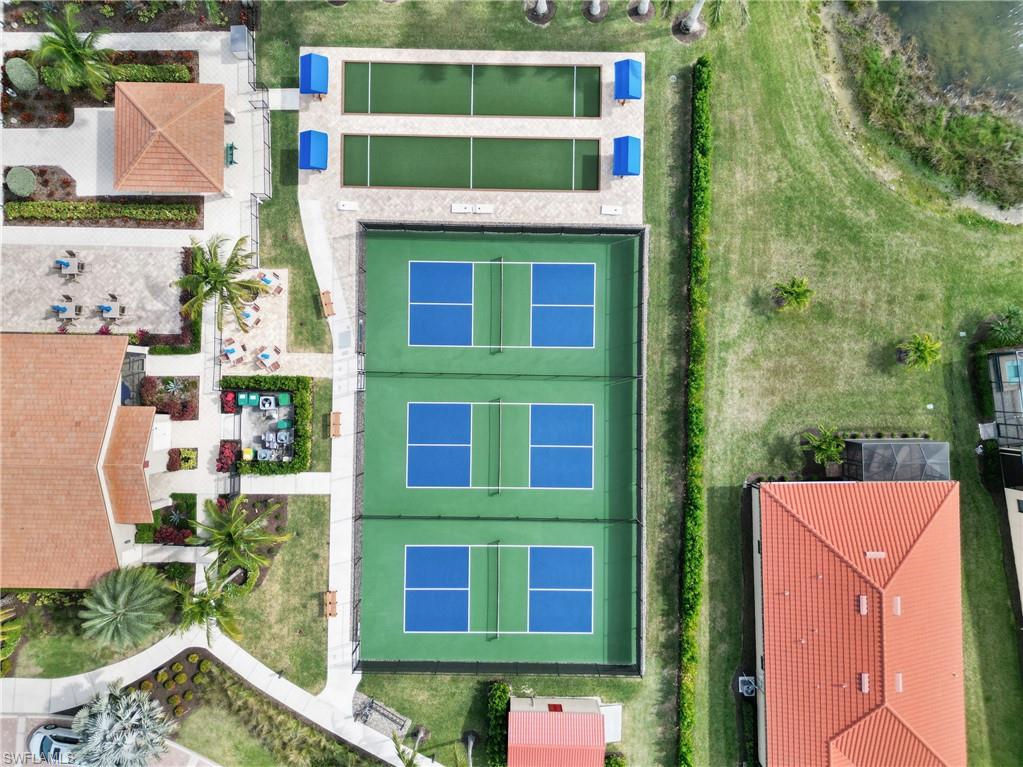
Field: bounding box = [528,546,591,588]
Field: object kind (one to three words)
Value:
sports court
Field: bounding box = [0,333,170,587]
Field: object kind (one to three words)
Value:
building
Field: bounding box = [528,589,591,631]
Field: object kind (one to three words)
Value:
sports court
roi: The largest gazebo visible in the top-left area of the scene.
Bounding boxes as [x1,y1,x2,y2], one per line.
[112,81,240,204]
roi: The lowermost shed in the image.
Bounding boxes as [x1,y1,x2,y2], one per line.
[508,698,605,766]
